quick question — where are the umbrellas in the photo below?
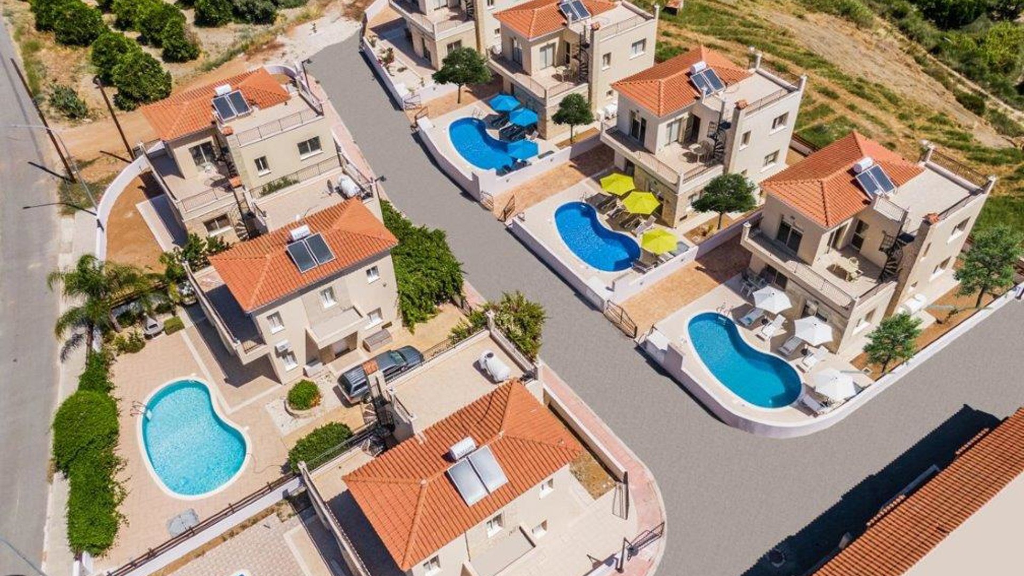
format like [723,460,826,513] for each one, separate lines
[602,177,632,202]
[641,233,676,262]
[752,290,792,331]
[622,196,660,231]
[809,371,858,417]
[505,146,538,182]
[510,113,539,147]
[790,318,835,364]
[490,99,518,123]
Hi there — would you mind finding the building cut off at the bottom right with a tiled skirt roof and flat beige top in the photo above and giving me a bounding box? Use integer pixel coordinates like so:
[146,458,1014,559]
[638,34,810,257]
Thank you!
[797,399,1024,576]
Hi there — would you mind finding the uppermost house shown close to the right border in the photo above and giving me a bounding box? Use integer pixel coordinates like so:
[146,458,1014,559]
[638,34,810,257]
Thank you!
[738,129,1000,354]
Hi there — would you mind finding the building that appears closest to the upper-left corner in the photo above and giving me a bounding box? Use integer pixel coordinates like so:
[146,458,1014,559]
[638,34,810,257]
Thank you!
[138,65,335,240]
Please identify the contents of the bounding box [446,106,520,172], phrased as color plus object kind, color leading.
blue swimming pool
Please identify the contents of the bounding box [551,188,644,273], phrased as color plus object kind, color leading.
blue swimming pool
